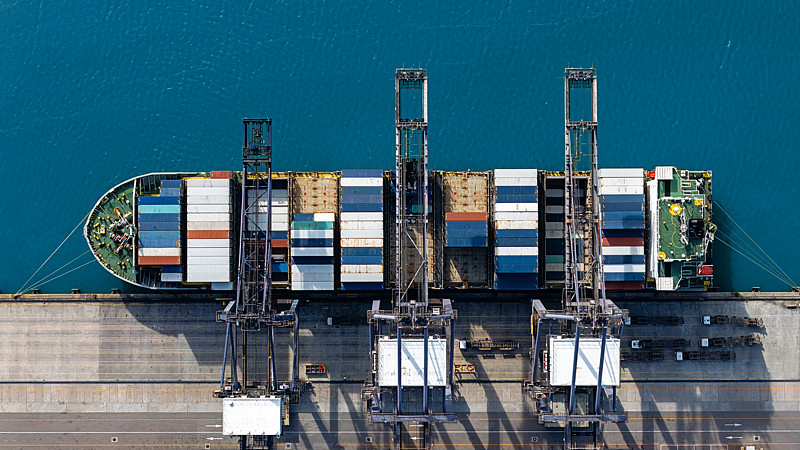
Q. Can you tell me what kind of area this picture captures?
port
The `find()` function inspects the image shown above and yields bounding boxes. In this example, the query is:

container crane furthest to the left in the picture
[212,116,318,450]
